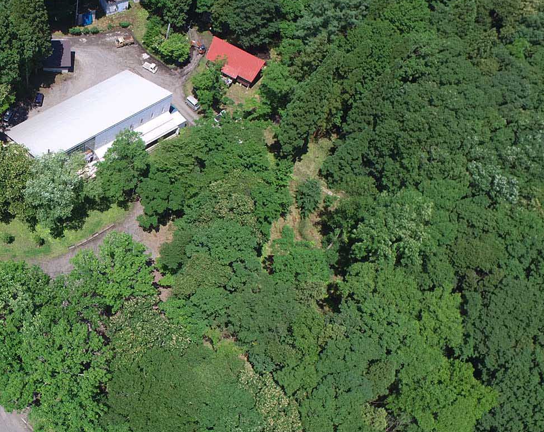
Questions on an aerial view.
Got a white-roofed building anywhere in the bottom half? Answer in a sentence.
No, there is no white-roofed building in the bottom half.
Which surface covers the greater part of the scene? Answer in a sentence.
For the most part, this view shows trees.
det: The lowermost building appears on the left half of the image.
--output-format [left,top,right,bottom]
[5,69,186,181]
